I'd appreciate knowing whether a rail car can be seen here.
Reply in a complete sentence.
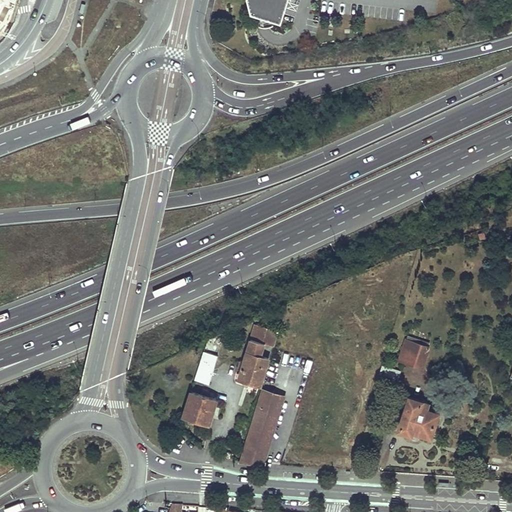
No, there's no rail car here.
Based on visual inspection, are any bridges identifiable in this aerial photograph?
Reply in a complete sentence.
Yes, I can see a bridge in this picture.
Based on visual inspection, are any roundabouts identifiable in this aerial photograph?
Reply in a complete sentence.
Yes, there's a roundabout down there.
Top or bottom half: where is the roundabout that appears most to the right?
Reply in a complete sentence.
Seen from above, the roundabout that appears most to the right lies in the top half of the view.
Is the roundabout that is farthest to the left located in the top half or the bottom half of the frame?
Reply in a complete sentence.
Seen from above, the roundabout that is farthest to the left lies in the bottom half of the view.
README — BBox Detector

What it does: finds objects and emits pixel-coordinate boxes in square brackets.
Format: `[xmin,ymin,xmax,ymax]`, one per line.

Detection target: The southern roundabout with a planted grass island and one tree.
[33,374,148,512]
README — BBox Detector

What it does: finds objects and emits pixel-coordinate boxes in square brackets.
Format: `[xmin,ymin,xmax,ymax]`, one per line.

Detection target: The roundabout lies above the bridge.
[116,46,214,146]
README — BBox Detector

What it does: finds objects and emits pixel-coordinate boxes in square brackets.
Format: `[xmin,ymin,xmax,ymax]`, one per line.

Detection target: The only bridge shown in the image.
[79,166,174,393]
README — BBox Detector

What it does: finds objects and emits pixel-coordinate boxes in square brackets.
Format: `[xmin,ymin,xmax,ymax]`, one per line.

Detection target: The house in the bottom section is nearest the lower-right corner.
[398,399,440,444]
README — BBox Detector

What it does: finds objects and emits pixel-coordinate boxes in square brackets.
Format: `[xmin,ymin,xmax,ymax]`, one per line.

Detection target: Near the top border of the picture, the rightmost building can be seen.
[246,0,288,28]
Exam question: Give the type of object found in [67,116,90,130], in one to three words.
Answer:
vehicle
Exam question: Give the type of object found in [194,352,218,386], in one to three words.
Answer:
shed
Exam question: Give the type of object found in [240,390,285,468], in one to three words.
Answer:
building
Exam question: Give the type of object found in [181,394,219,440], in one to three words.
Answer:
house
